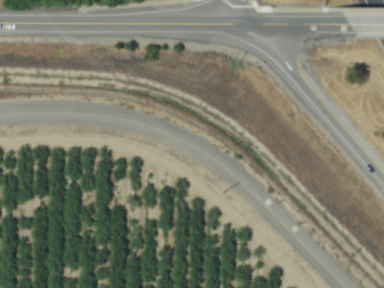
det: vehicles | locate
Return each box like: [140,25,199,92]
[3,24,16,29]
[366,162,376,173]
